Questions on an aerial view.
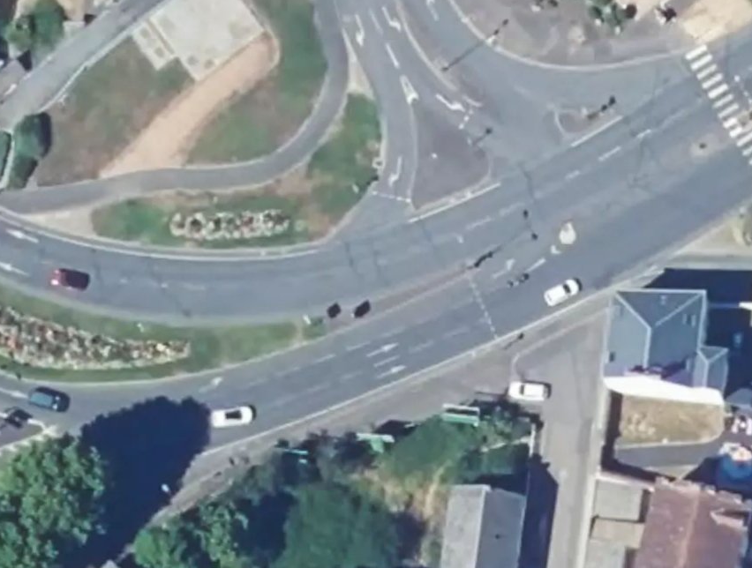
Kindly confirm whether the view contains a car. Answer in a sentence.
Yes, the photo shows a car.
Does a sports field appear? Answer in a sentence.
No, no sports field is visible in the scene.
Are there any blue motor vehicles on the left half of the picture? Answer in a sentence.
Yes, a blue motor vehicle can be seen on the left half of the picture.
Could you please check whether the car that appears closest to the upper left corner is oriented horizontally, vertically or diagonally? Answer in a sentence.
I'd say the car that appears closest to the upper left corner is aligned horizontally in the picture.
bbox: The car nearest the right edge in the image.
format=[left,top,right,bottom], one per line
[543,279,582,306]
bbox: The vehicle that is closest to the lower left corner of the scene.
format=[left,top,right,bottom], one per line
[29,388,69,410]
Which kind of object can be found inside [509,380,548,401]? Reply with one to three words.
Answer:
car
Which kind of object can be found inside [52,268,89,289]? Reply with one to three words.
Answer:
car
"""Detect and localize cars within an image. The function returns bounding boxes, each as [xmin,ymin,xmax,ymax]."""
[543,279,582,306]
[52,268,89,289]
[29,388,69,410]
[212,405,254,427]
[509,380,548,401]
